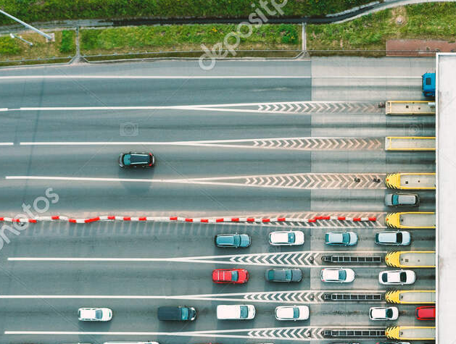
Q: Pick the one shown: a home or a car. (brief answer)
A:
car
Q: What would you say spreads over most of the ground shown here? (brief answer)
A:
paved ground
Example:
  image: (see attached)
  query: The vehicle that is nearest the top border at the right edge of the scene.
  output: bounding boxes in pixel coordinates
[421,71,437,96]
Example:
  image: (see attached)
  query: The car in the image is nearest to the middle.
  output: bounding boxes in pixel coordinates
[215,232,250,249]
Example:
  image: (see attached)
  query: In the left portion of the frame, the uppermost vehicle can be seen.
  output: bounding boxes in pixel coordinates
[119,152,155,169]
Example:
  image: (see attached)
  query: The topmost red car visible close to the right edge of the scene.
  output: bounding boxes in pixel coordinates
[416,306,437,320]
